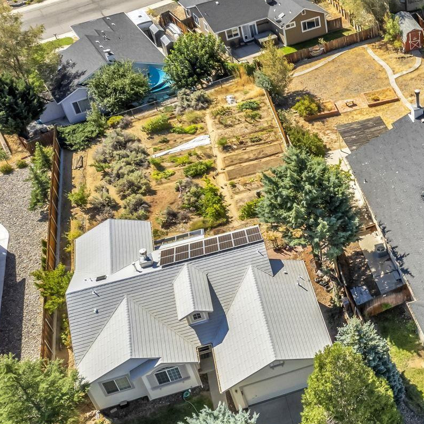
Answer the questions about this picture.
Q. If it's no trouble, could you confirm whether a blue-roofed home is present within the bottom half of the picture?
No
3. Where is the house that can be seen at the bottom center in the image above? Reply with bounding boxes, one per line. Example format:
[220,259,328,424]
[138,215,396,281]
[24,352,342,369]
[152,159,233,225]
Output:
[64,217,333,413]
